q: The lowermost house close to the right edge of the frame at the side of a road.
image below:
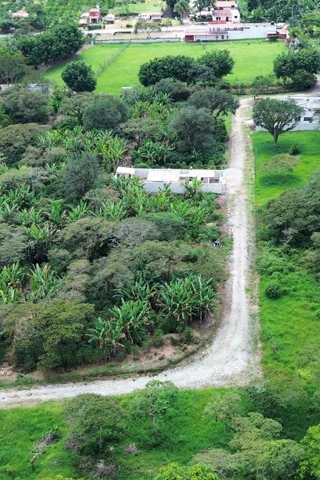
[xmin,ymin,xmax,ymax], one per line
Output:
[266,93,320,122]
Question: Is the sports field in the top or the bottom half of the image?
top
